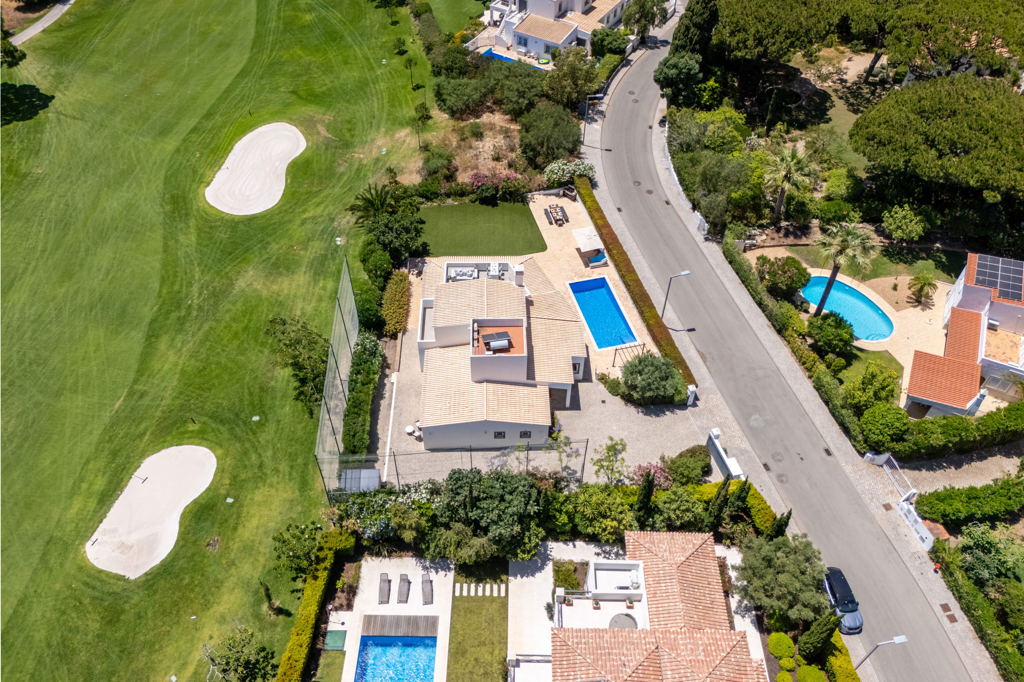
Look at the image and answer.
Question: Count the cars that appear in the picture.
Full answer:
There is 1 car in the image.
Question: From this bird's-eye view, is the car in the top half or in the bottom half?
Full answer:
The car is in the bottom half of the image.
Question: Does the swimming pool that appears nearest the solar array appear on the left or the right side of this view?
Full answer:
It is on the right.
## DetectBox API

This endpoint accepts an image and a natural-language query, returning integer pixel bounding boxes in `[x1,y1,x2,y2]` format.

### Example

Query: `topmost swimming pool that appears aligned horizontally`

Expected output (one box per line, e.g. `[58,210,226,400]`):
[477,50,556,78]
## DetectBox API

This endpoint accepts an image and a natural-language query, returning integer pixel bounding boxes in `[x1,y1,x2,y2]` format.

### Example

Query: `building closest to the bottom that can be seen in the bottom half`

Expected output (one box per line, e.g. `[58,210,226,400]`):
[505,528,760,682]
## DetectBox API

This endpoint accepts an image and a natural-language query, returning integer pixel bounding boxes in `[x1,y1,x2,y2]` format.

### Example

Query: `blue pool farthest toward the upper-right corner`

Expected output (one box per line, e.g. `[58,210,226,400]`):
[798,273,899,343]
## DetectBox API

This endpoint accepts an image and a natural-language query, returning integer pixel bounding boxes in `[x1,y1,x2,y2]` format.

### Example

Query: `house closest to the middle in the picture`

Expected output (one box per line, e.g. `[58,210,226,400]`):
[417,255,588,449]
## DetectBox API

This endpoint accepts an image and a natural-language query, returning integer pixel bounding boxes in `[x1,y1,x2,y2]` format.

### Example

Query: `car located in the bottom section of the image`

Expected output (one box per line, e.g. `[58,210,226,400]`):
[815,560,866,629]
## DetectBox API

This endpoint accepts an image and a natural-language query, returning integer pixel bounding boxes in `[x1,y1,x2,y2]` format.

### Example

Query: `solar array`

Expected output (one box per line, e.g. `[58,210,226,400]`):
[979,253,1024,292]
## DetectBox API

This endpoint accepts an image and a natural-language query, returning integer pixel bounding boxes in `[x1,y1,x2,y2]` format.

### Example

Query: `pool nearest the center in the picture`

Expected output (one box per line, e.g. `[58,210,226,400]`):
[564,274,642,352]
